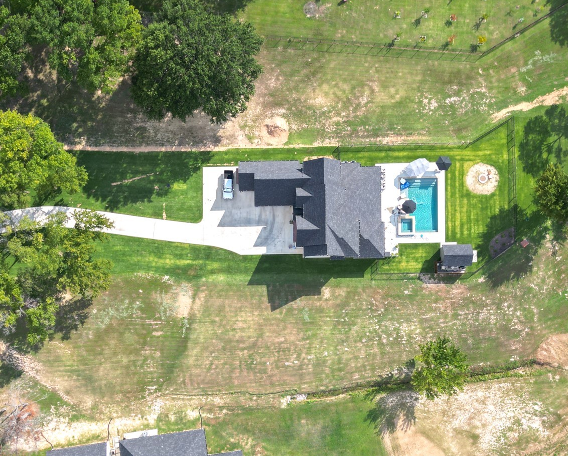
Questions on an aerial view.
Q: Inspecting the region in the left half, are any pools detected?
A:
No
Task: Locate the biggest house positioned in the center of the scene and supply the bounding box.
[237,157,387,261]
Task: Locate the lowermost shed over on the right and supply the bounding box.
[441,245,474,266]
